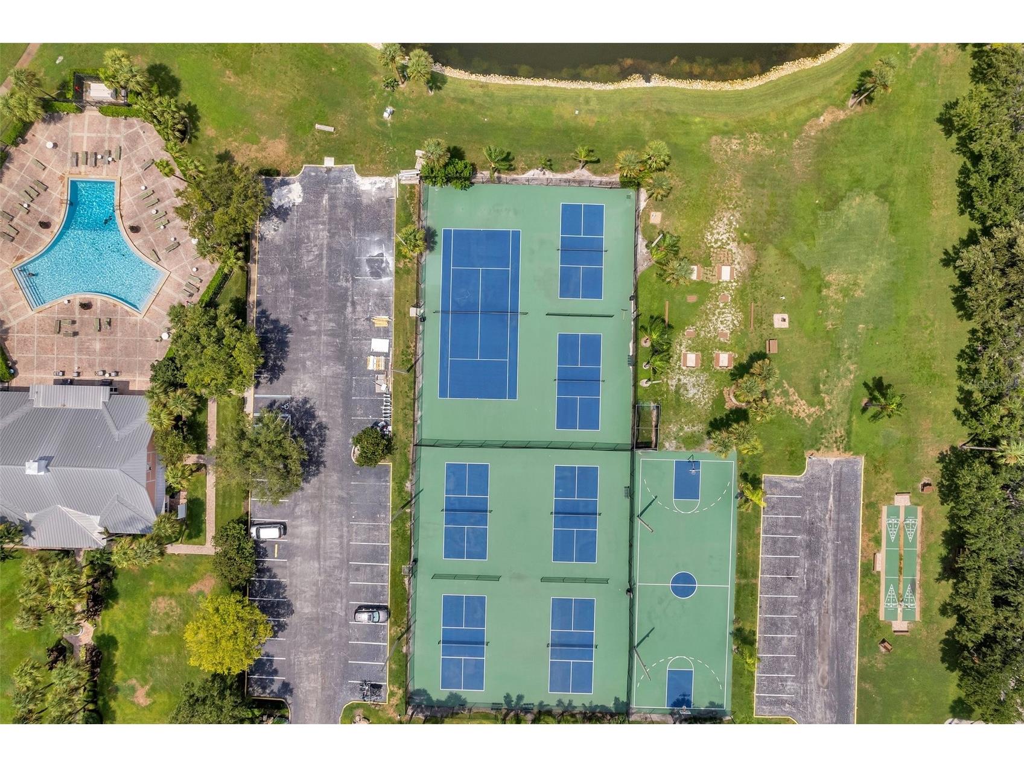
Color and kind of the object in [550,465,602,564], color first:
blue sports court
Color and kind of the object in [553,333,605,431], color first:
blue sports court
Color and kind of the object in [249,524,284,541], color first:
white car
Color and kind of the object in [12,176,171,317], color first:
blue swimming pool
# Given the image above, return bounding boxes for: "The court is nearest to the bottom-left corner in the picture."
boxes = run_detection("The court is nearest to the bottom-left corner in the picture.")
[437,595,489,691]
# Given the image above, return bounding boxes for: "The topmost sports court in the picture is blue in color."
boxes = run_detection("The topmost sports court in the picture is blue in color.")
[556,203,607,299]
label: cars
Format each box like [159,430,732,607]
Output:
[249,524,284,541]
[354,607,389,624]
